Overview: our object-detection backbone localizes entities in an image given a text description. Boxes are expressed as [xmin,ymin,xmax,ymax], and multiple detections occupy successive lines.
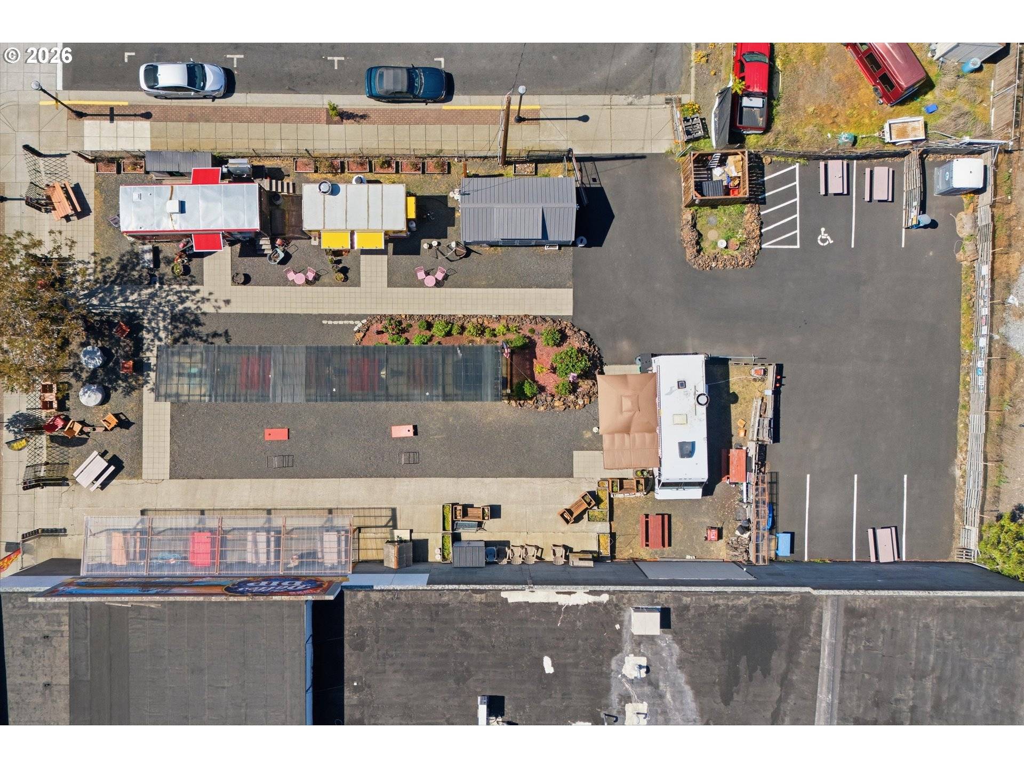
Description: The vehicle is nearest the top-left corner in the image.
[141,60,227,100]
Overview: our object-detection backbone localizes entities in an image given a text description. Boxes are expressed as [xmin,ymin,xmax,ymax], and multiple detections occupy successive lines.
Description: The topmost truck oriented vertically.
[731,37,775,138]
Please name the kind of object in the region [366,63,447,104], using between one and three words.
car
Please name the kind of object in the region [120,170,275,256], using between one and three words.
trailer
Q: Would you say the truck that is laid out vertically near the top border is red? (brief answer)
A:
Yes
